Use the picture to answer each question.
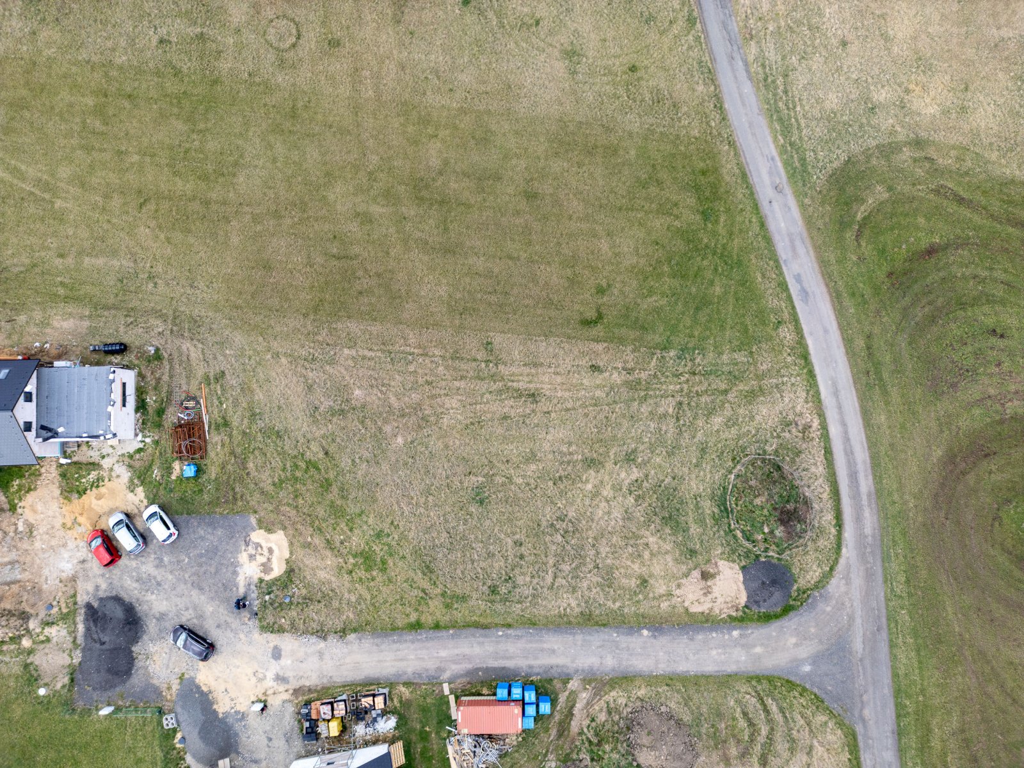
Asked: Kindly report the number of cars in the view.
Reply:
four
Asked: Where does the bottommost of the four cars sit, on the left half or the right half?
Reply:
left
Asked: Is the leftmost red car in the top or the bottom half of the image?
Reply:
bottom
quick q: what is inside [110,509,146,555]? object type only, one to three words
car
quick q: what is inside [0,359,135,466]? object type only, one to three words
house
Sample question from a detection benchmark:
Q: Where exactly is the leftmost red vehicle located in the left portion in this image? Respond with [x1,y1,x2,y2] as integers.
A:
[89,527,122,566]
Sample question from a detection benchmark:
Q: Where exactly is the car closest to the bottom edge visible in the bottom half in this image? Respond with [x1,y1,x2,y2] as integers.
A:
[170,625,216,664]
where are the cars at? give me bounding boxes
[144,503,180,546]
[110,509,146,555]
[170,625,216,664]
[89,527,122,566]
